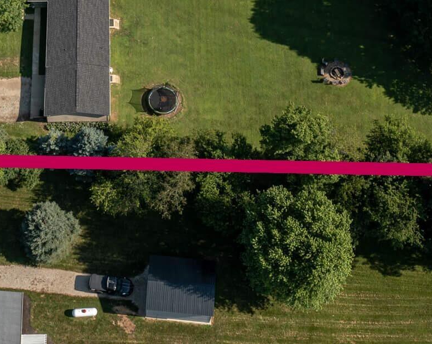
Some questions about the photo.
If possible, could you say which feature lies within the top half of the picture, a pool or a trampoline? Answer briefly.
trampoline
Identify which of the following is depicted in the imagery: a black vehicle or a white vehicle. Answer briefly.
black vehicle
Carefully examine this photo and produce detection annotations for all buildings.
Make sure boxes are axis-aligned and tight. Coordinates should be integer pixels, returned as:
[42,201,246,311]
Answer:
[145,255,215,325]
[27,0,121,124]
[0,292,49,344]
